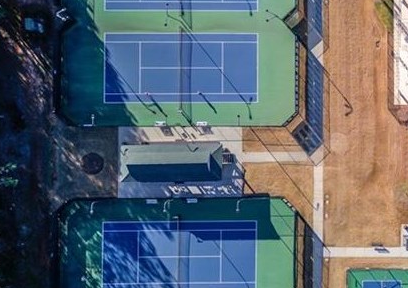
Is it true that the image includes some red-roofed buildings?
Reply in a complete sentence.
No, I can see no red-roofed building in this picture.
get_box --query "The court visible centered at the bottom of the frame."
[57,199,295,288]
